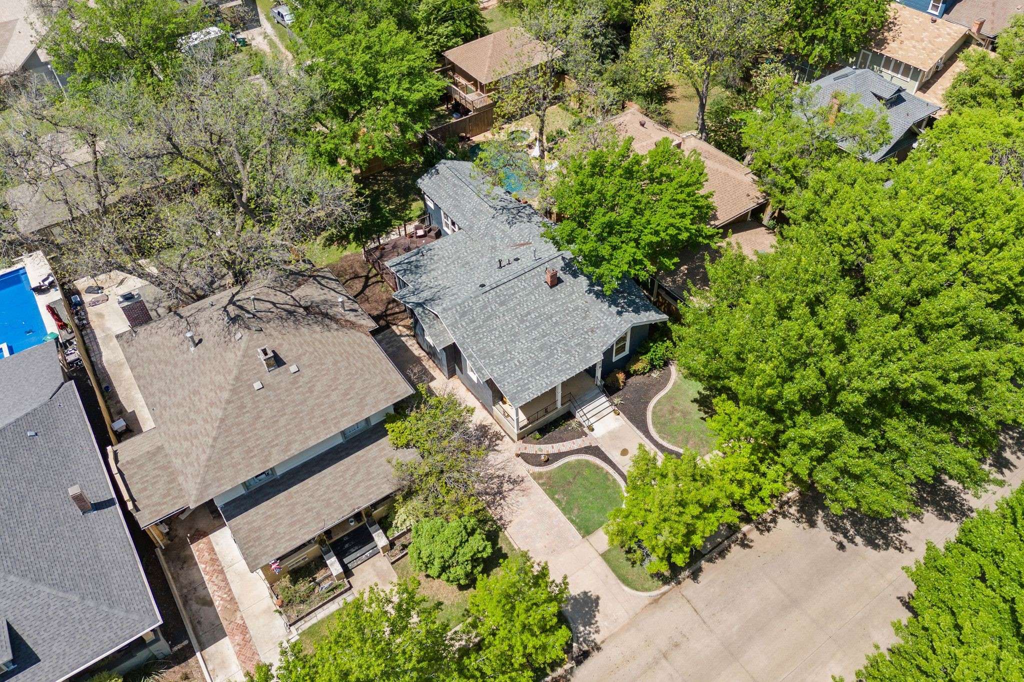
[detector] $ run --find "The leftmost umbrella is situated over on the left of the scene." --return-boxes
[37,305,70,335]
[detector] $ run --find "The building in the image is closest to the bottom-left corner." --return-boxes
[0,346,166,682]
